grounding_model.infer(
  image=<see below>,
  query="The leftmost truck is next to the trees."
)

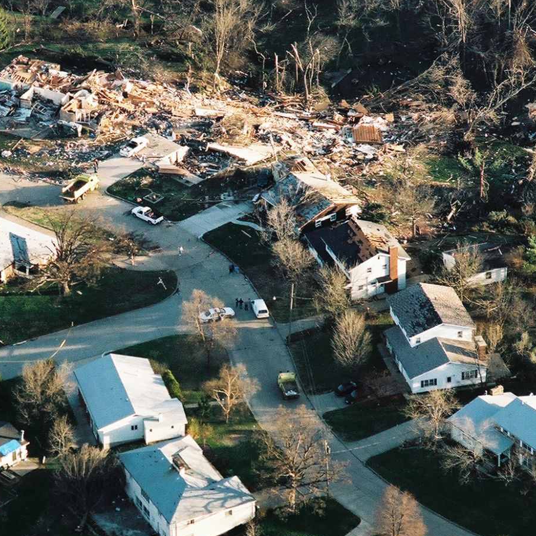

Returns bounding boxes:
[59,171,101,203]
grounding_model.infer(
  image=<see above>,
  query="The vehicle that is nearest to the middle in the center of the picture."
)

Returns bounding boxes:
[251,297,271,321]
